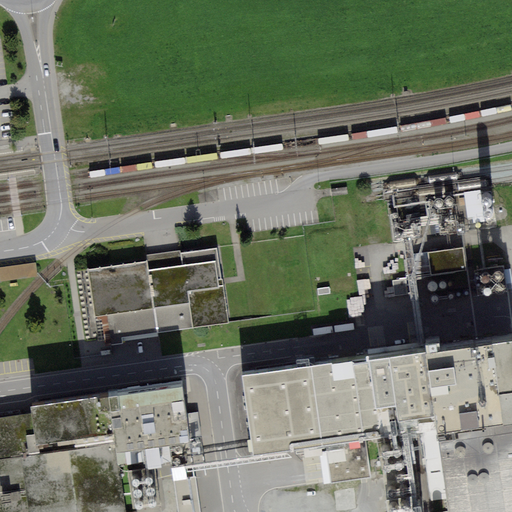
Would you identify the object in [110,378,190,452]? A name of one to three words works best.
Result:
building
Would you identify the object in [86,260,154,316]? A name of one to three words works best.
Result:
building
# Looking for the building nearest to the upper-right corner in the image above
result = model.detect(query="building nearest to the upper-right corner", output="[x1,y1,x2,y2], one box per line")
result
[464,190,484,223]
